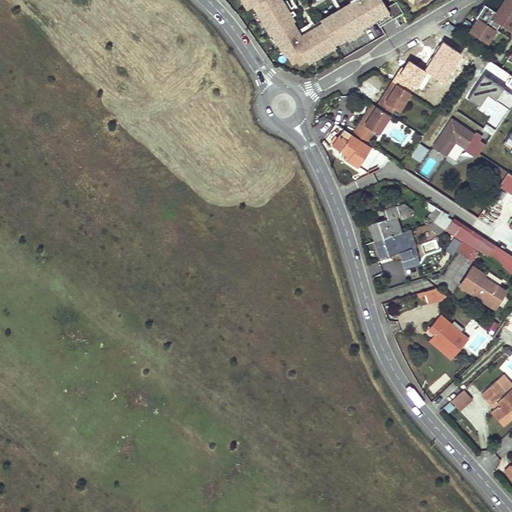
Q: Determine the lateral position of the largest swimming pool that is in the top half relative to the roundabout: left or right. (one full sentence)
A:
In the image, the largest swimming pool that is in the top half sits on the right side of the roundabout.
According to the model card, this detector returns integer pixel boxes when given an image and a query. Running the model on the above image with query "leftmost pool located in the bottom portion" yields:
[464,319,492,356]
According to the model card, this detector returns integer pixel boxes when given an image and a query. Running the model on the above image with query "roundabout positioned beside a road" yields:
[238,57,327,191]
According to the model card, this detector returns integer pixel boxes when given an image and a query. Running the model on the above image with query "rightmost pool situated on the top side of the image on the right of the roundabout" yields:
[420,157,438,176]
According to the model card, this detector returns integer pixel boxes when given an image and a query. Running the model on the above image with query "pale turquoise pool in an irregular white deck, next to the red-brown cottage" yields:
[378,120,414,147]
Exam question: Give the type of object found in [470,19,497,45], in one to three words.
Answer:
house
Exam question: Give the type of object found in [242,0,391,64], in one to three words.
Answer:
building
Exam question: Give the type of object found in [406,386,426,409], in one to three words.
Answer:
vehicle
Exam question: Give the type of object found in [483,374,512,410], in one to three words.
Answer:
house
